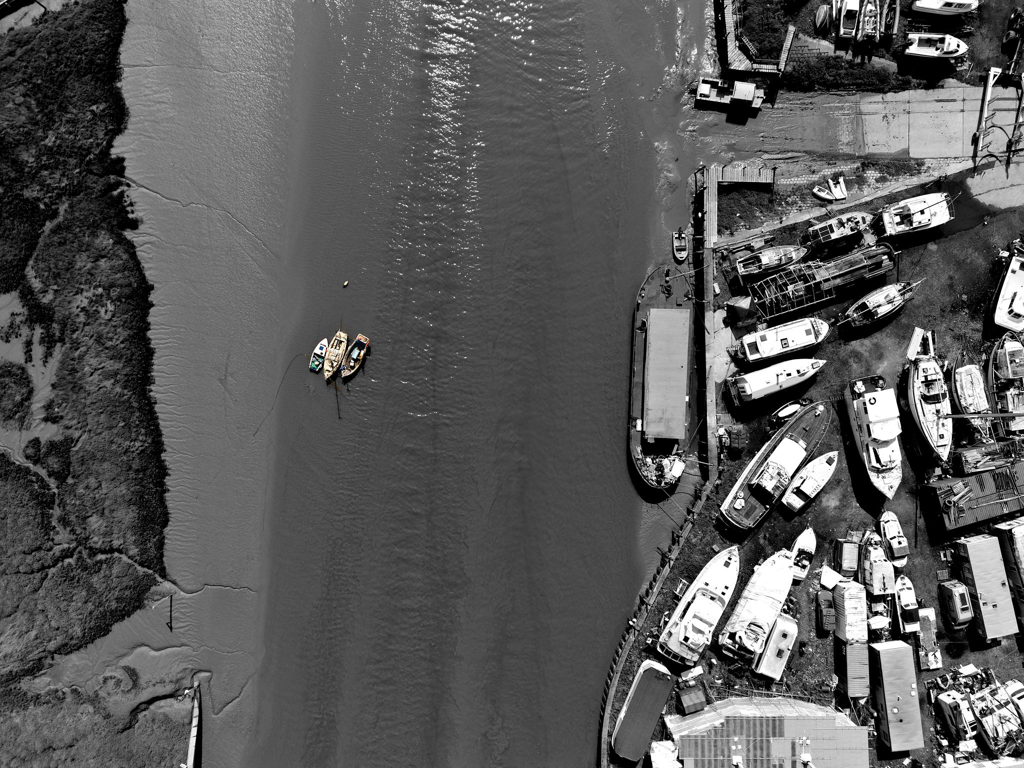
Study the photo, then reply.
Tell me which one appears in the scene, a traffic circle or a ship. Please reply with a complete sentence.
This aerial view contains a ship.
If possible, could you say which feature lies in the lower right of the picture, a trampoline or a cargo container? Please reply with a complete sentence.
It is a cargo container that can be seen in the lower right of the picture.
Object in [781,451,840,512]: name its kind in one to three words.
boat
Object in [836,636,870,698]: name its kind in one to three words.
shipping container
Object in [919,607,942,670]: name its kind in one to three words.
trailer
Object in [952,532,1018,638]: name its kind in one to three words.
house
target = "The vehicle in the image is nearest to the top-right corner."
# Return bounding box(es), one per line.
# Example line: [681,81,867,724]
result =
[1002,4,1024,74]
